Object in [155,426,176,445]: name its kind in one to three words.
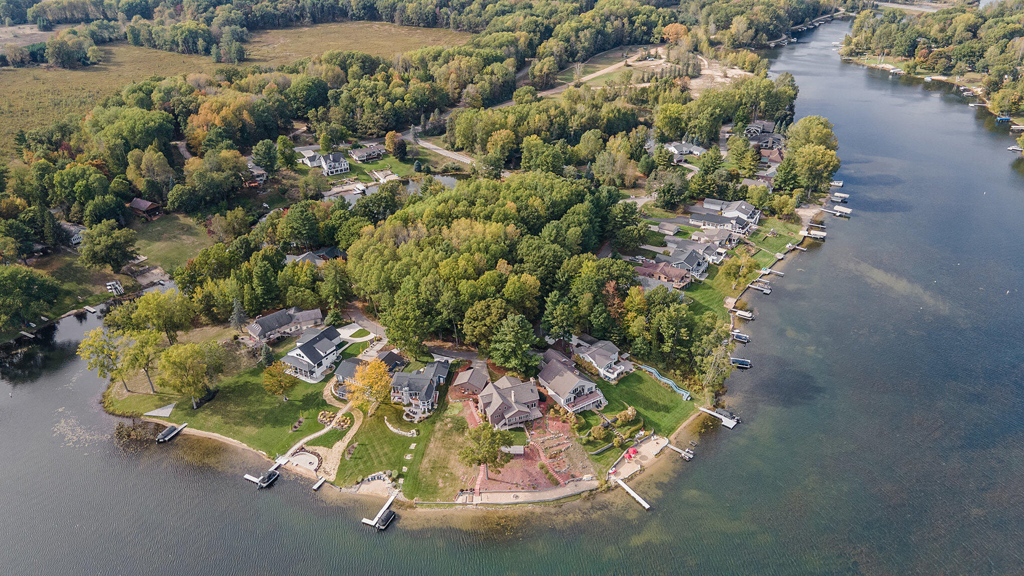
boat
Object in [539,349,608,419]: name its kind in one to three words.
house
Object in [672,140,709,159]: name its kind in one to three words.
house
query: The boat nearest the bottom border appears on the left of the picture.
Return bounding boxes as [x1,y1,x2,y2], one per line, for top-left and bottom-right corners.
[377,510,396,529]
